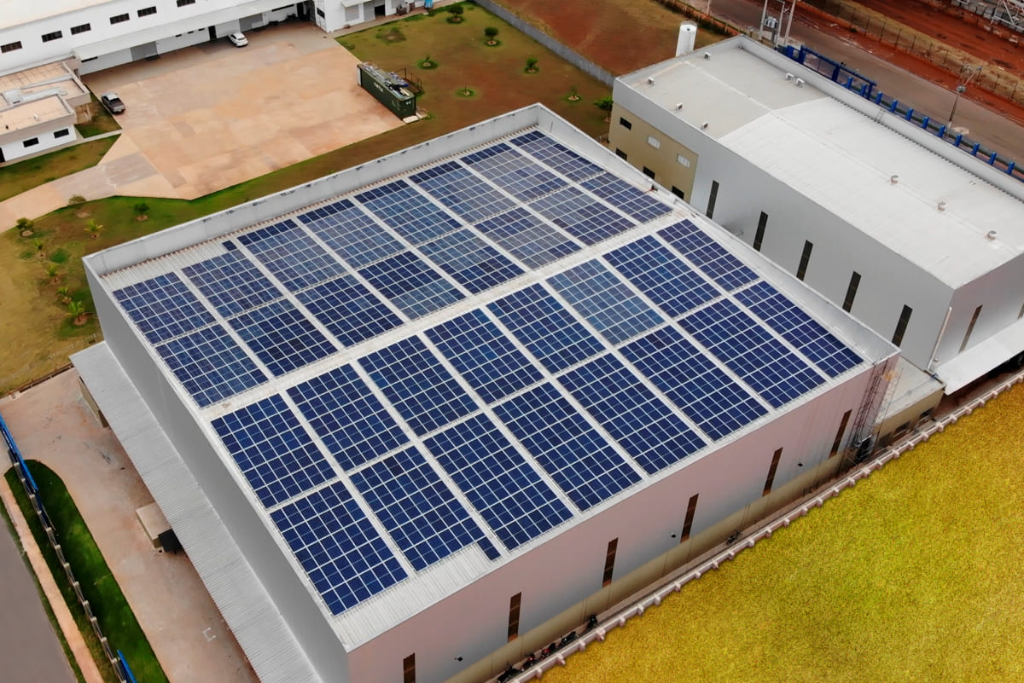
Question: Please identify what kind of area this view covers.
industrial area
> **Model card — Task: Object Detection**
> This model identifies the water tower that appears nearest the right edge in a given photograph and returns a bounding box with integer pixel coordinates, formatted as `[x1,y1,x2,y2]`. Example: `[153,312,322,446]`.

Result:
[674,19,699,57]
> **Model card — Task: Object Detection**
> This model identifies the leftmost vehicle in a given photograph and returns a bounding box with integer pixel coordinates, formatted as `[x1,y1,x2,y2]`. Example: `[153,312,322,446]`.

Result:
[96,90,126,112]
